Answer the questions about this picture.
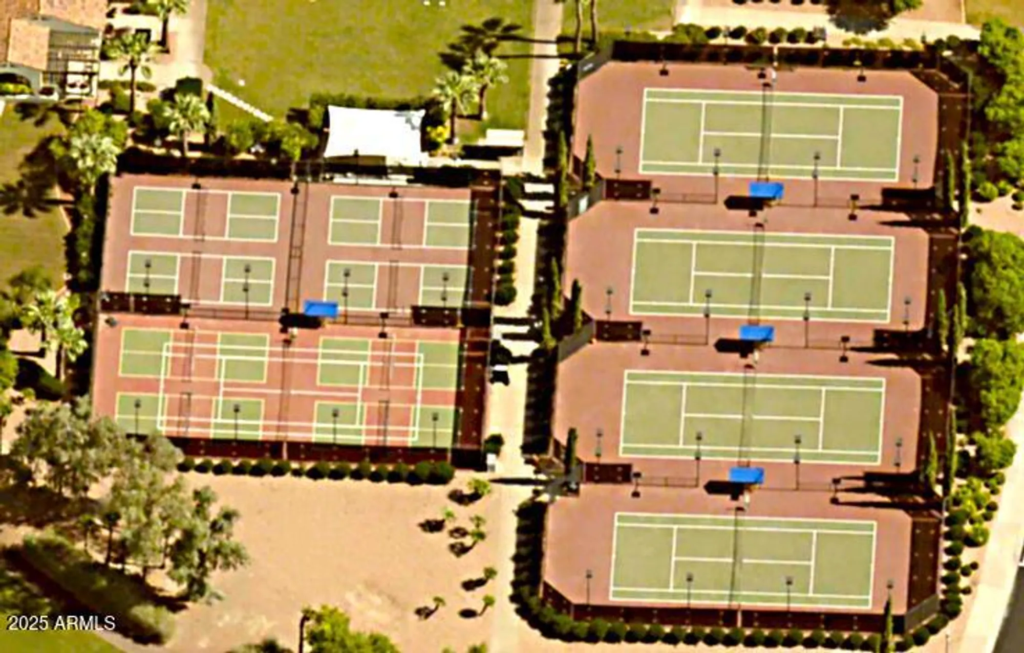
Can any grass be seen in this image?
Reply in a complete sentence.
Yes, some grass is visible.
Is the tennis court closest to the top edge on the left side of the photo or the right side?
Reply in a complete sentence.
You can find the tennis court closest to the top edge on the right side of the picture.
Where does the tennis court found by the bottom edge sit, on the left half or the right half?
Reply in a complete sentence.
It is on the right.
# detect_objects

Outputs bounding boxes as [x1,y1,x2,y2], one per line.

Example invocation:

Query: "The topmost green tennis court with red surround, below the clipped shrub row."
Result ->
[572,59,969,210]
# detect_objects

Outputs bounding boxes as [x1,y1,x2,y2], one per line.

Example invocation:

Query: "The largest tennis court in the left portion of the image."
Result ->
[89,313,490,470]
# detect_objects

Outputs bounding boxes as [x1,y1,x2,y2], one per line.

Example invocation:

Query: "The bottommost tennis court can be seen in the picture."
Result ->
[541,483,944,638]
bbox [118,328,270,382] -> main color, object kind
yellow sports court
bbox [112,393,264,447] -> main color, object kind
yellow sports court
